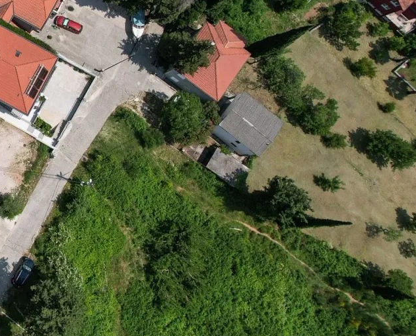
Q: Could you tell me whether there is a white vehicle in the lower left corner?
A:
No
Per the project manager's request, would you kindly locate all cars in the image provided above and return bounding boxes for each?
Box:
[10,256,33,287]
[53,15,83,35]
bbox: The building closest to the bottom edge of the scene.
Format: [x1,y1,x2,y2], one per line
[199,148,250,188]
